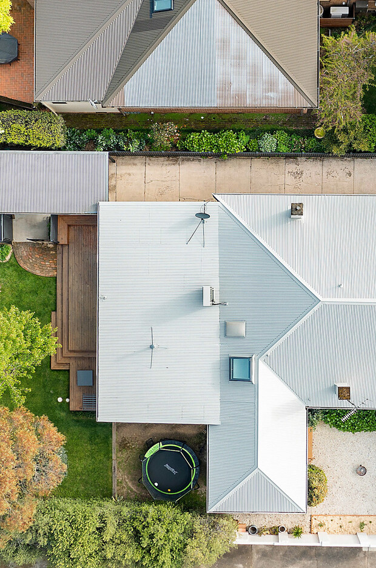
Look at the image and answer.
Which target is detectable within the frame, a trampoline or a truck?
trampoline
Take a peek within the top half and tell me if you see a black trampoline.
No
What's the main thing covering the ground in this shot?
buildings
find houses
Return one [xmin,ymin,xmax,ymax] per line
[34,0,376,112]
[95,192,376,515]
